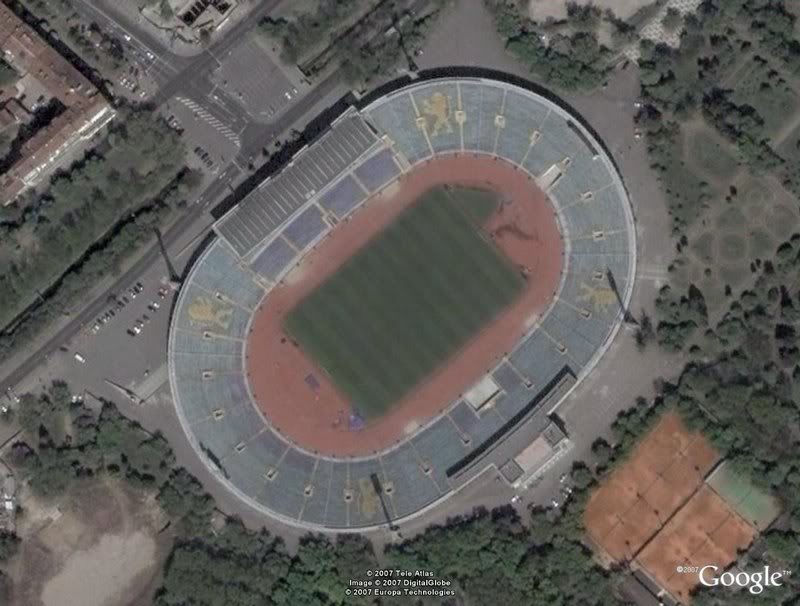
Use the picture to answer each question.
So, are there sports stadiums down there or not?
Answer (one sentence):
Yes, the picture does show a sports stadium.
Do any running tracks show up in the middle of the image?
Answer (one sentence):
Yes, you'll find a running track in the middle of the image.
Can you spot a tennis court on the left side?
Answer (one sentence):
No, on the left side there is no tennis court.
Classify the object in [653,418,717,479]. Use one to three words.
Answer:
tennis court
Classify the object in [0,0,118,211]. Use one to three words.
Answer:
building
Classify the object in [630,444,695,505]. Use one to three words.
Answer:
tennis court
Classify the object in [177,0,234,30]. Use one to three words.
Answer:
building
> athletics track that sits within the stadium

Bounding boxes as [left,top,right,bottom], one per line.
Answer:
[243,151,568,460]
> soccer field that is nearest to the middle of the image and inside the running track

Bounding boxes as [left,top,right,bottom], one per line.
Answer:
[286,187,526,417]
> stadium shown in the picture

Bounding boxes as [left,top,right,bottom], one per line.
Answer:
[166,78,638,533]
